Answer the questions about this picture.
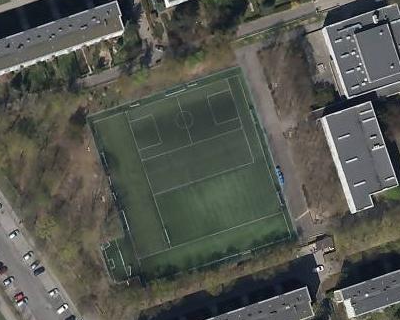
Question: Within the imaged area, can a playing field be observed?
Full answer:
Yes, I can see a playing field in this picture.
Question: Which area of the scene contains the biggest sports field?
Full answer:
The biggest sports field appears toward the center of the photo.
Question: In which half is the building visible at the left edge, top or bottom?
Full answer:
Seen from above, the building visible at the left edge lies in the top half of the view.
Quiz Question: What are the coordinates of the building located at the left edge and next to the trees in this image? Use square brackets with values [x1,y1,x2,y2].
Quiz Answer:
[0,1,124,75]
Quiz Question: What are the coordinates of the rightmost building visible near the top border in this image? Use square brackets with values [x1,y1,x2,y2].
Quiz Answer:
[322,4,400,98]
